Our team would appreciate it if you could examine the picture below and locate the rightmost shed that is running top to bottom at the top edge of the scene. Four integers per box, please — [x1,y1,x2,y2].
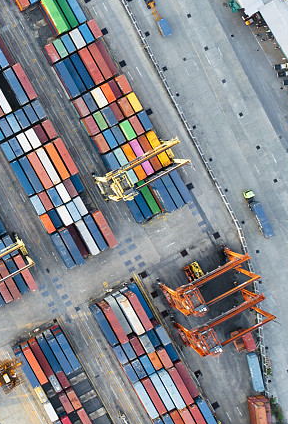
[254,0,288,72]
